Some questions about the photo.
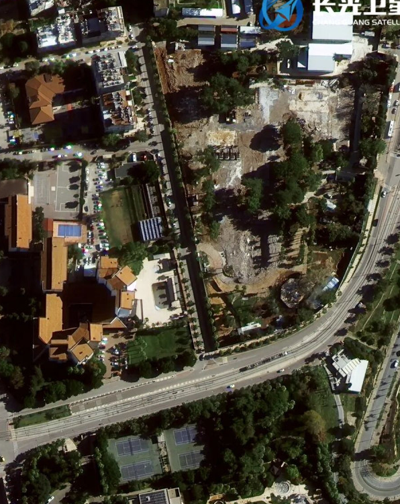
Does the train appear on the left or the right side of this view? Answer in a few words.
right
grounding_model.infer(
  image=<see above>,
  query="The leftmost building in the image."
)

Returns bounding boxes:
[0,180,34,254]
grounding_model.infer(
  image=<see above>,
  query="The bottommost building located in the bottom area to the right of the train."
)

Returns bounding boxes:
[332,349,367,394]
